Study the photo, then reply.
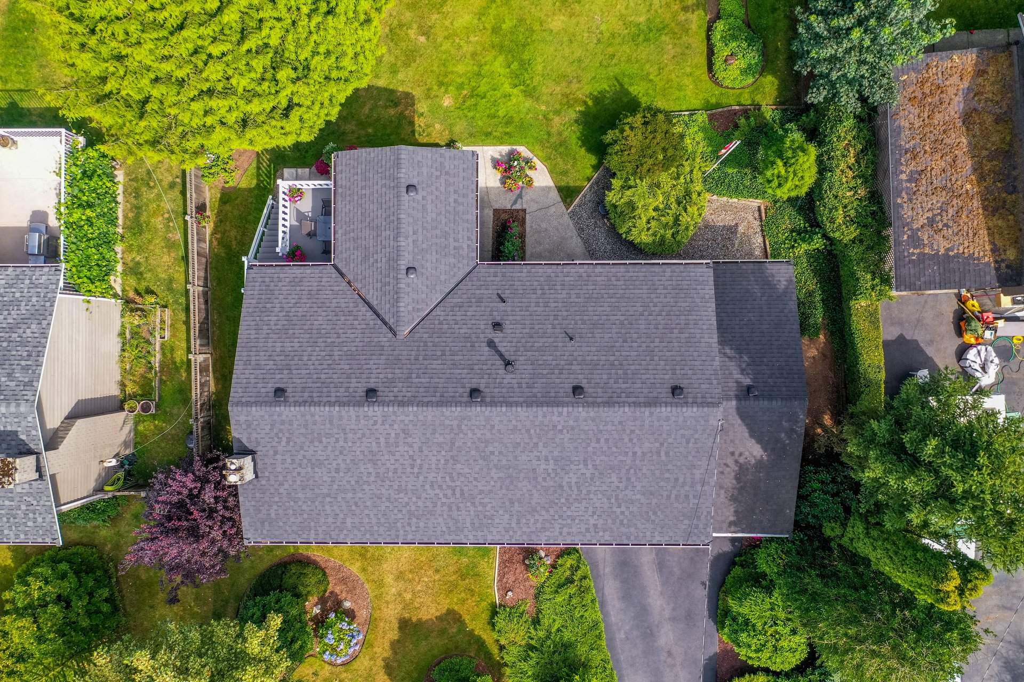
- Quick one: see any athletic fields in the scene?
No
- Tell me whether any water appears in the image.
No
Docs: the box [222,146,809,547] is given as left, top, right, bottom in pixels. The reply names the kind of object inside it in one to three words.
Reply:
house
